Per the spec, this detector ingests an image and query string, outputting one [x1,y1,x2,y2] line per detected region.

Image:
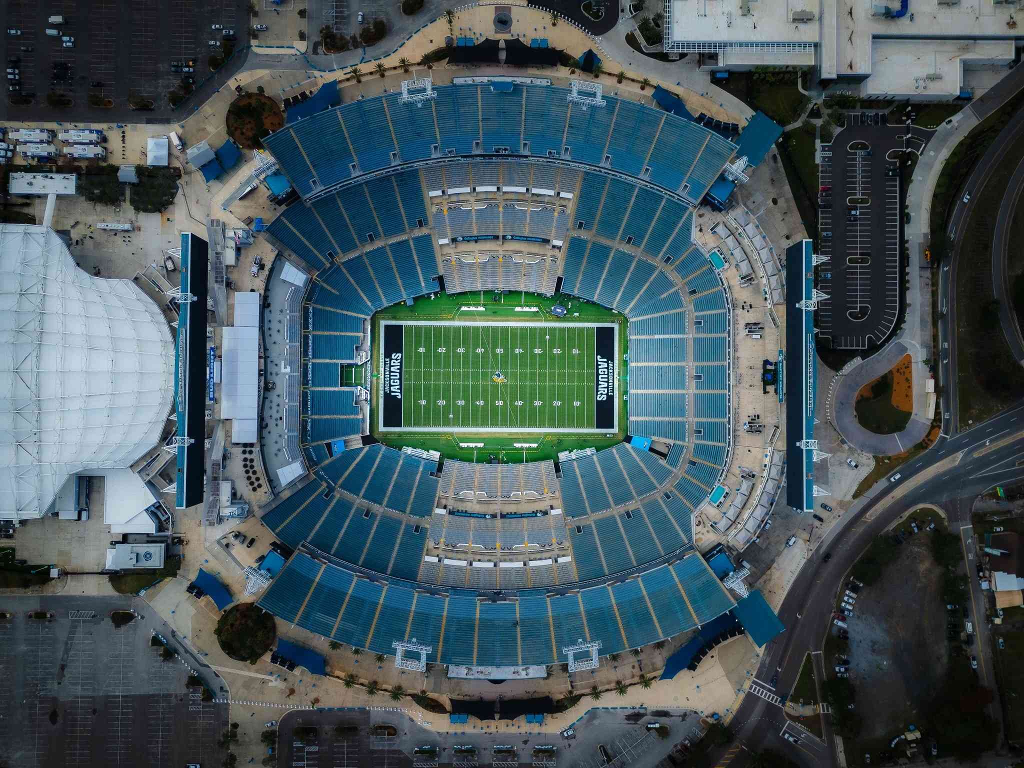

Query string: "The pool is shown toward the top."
[709,249,728,272]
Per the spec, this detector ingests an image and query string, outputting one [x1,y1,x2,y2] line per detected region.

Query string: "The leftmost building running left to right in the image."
[9,173,81,197]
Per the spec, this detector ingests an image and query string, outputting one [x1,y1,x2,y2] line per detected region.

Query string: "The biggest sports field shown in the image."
[375,292,622,463]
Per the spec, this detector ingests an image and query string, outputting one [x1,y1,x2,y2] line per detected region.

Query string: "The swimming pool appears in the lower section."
[708,483,729,506]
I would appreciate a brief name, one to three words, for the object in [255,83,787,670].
stadium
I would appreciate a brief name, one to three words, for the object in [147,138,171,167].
tent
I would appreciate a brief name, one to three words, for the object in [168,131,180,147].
vehicle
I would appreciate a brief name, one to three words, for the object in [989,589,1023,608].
house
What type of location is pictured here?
sports ground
